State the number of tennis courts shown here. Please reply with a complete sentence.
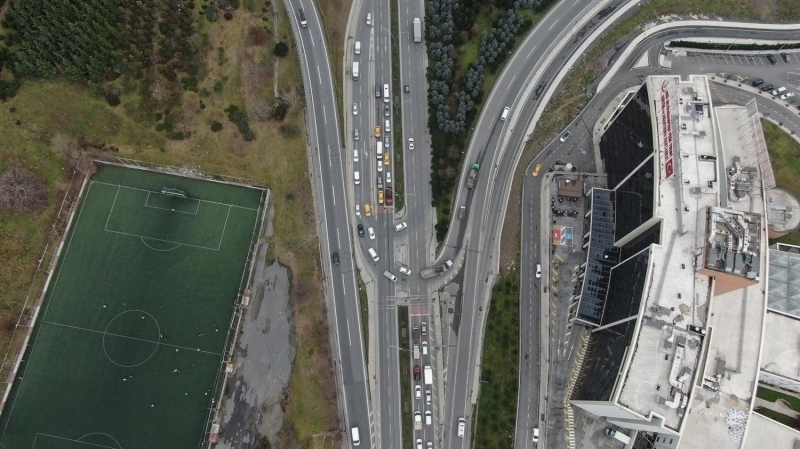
Not a single tennis court can be seen.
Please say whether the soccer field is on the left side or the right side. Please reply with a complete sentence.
The soccer field is on the left side of the image.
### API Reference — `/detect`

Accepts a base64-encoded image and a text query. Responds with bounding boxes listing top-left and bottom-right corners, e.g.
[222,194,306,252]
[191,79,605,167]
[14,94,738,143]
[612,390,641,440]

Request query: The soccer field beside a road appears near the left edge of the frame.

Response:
[0,162,266,449]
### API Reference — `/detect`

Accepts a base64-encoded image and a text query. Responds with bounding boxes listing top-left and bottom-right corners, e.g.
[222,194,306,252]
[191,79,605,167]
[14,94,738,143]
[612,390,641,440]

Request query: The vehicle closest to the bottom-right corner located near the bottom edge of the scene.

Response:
[603,427,633,445]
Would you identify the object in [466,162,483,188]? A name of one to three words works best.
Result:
vehicle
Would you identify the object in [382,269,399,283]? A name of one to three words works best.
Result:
vehicle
